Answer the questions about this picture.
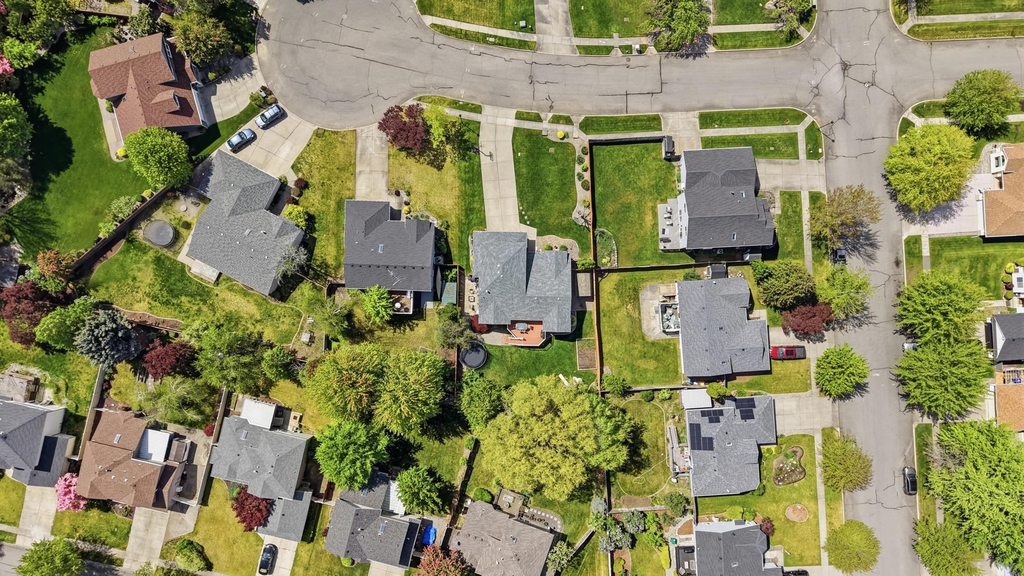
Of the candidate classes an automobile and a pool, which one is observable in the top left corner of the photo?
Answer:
automobile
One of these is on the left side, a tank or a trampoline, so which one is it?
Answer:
trampoline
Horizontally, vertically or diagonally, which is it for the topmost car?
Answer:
diagonally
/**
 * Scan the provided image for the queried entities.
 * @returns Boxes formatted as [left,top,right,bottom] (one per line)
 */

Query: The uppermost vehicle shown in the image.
[252,102,284,129]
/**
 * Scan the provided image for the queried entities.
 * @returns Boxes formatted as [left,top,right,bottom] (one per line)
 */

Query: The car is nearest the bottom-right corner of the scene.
[902,466,920,497]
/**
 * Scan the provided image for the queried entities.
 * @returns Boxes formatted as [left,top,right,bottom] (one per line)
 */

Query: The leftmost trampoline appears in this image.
[144,218,174,248]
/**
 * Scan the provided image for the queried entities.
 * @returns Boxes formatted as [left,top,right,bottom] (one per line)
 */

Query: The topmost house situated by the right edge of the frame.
[974,145,1024,238]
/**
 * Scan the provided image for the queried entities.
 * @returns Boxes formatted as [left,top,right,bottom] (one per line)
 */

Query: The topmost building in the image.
[87,33,205,143]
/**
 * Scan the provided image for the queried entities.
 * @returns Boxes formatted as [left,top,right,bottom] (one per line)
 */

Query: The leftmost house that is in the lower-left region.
[0,391,75,488]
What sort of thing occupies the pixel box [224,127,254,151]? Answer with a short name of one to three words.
car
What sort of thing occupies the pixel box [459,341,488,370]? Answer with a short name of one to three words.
trampoline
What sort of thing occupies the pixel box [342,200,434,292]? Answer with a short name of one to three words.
house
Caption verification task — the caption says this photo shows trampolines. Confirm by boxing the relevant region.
[144,218,174,248]
[459,341,488,370]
